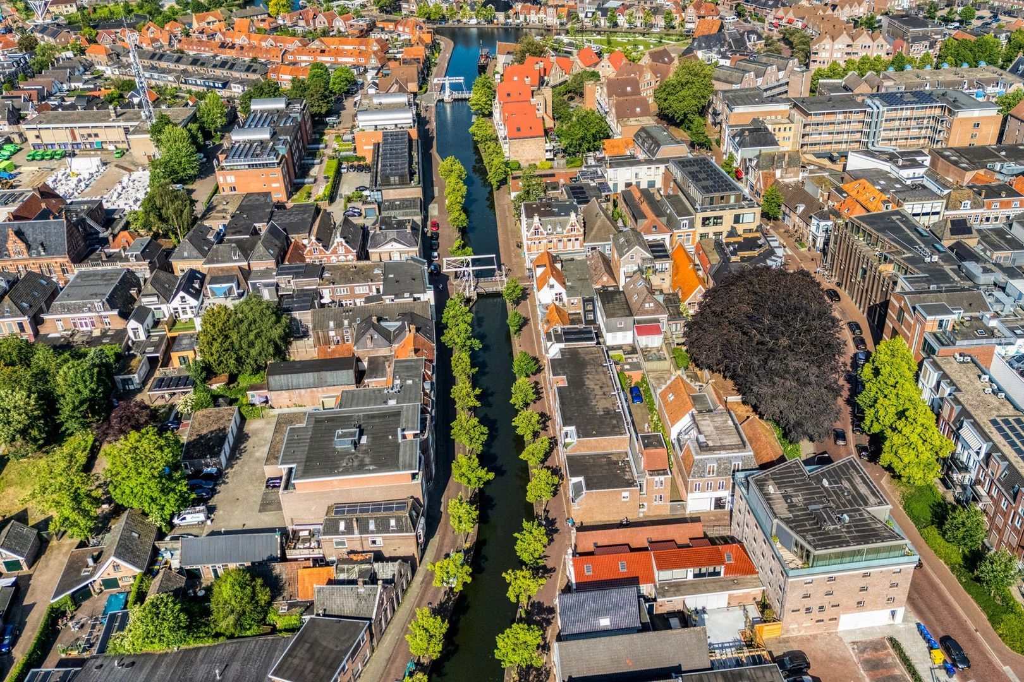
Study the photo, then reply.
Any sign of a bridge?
Yes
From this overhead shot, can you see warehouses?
Yes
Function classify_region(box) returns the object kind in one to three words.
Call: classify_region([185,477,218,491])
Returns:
car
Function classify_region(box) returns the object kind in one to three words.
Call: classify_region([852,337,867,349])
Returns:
vehicle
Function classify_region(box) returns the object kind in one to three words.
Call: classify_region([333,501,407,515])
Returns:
solar panel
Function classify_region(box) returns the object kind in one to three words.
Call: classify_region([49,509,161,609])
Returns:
house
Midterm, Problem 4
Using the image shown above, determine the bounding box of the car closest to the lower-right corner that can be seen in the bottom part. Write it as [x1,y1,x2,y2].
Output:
[938,635,969,667]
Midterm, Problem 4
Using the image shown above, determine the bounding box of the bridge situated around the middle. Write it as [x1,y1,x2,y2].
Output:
[444,253,504,293]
